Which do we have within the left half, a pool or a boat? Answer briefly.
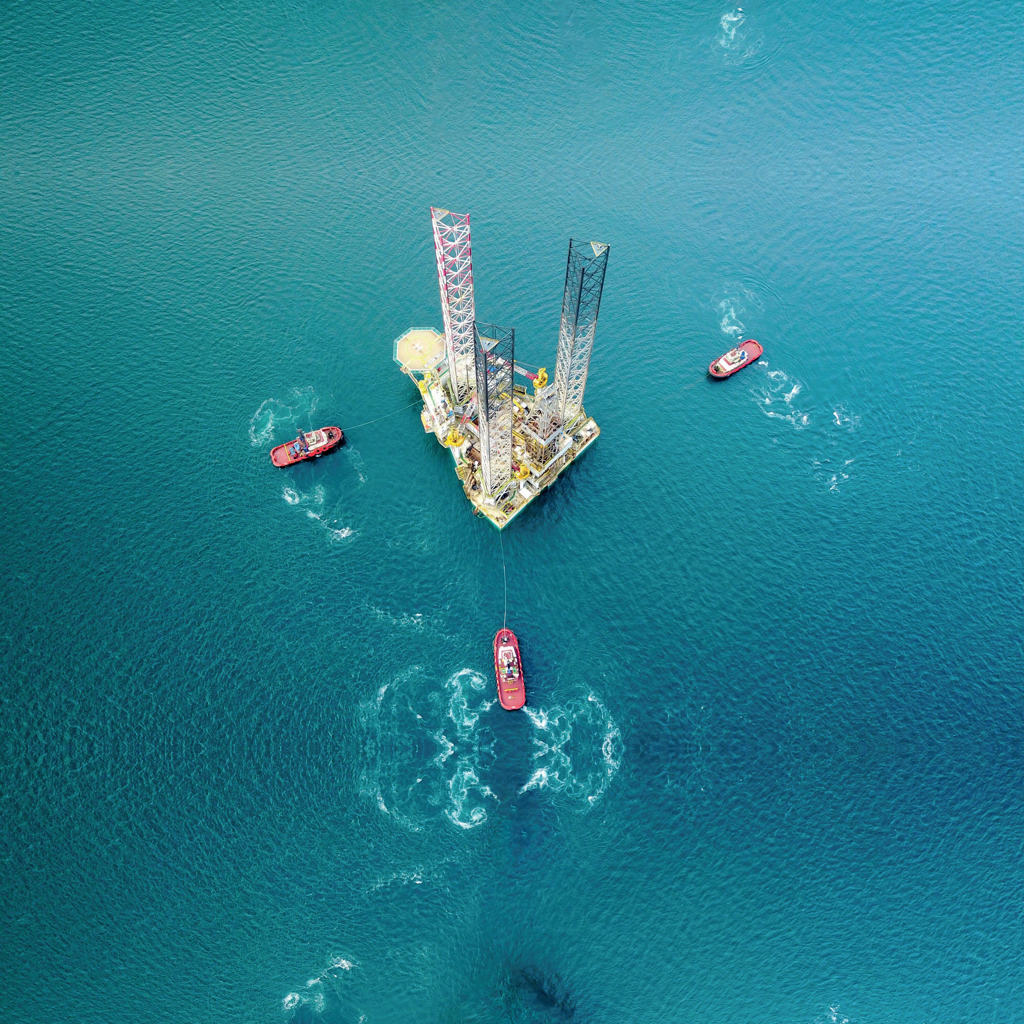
boat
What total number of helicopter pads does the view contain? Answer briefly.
1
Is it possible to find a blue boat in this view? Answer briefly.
No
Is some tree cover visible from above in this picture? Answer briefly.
No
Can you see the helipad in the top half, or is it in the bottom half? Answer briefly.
top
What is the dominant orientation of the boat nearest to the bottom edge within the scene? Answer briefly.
up and down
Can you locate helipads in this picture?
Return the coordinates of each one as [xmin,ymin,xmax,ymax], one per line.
[393,327,449,386]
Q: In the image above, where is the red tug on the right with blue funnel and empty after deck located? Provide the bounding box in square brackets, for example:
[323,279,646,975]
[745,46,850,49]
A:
[708,340,765,376]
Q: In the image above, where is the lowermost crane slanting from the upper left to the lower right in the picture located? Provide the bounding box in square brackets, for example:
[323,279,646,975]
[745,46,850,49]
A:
[476,427,532,492]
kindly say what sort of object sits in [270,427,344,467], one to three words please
boat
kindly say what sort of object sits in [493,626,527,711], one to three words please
boat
